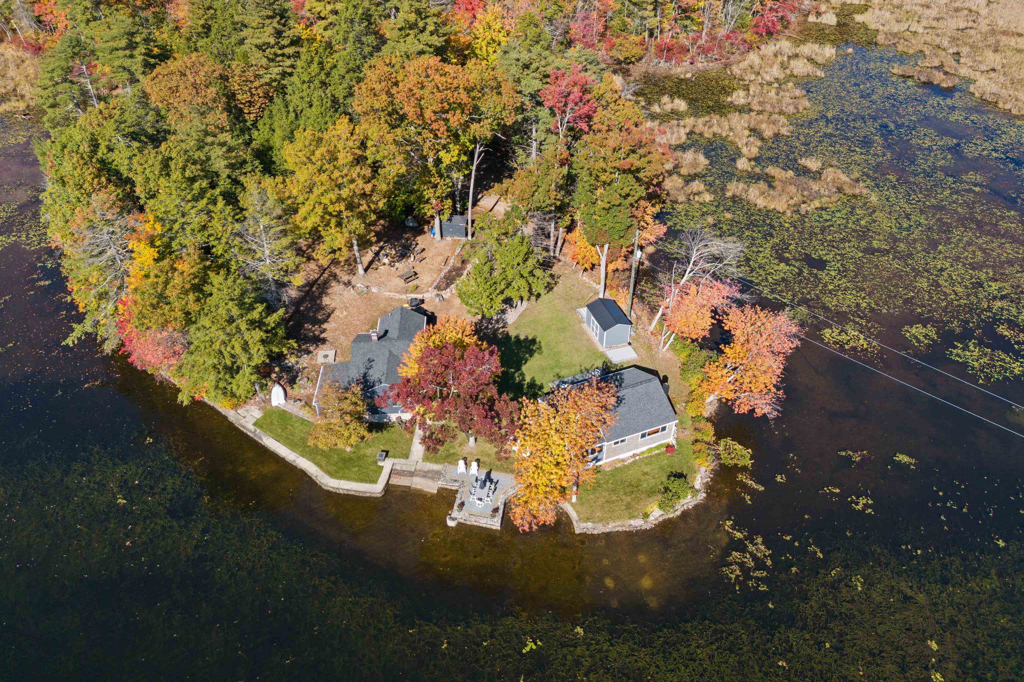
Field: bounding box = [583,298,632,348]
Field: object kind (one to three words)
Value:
shed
